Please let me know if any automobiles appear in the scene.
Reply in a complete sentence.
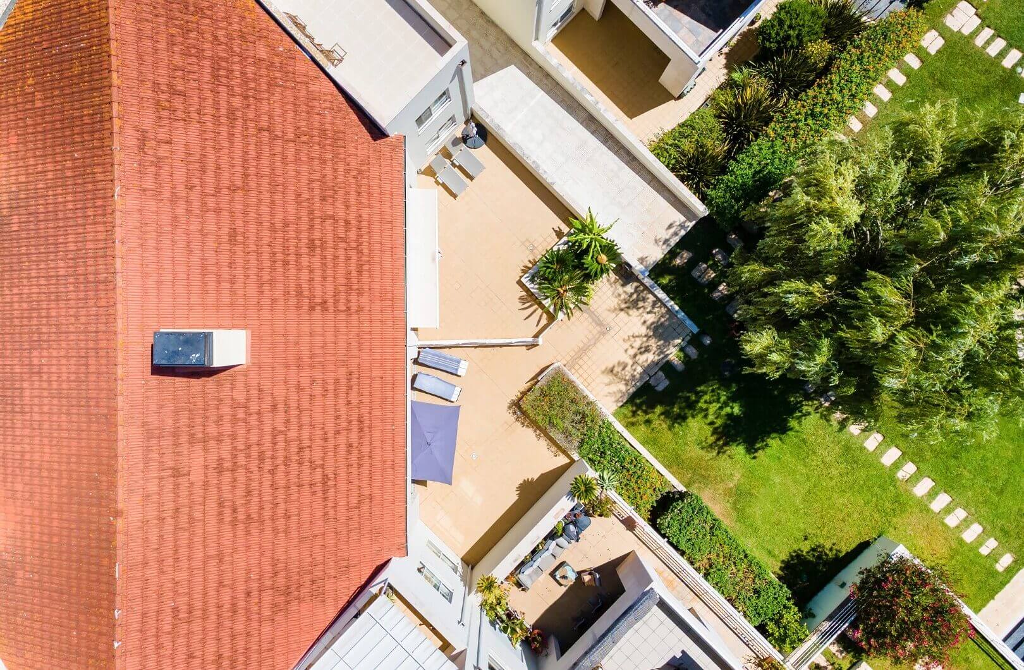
No, there appears to be no automobile in this shot.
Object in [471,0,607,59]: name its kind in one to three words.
house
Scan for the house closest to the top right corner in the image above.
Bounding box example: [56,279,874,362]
[612,0,771,97]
